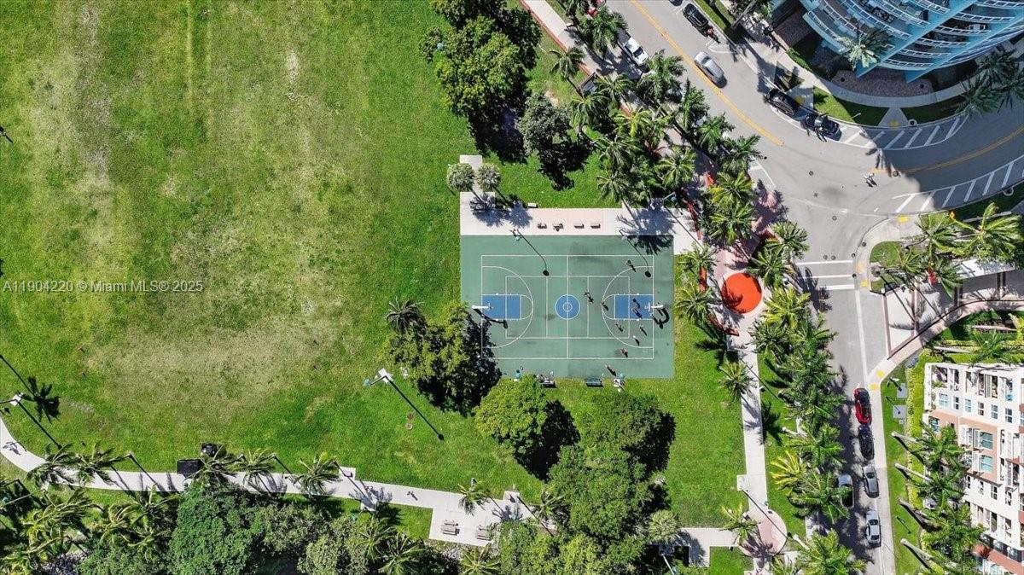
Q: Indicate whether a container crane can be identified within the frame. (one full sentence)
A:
No, I find no container crane anywhere in the image.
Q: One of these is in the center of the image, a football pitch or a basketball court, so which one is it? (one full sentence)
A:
There is a basketball court in the center of the image.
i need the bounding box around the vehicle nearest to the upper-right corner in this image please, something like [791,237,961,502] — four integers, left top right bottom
[803,113,842,140]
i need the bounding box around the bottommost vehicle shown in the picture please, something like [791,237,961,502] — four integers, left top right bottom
[864,511,882,545]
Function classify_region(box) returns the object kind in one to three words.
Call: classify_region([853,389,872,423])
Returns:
car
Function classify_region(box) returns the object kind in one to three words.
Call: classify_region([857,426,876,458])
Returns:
car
